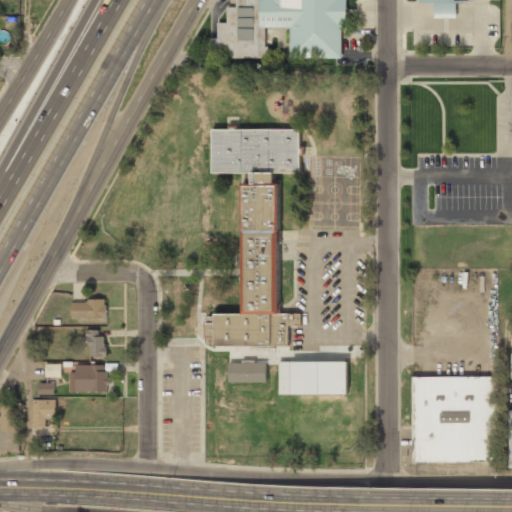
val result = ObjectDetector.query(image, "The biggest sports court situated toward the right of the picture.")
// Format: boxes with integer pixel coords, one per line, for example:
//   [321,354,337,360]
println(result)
[309,157,361,228]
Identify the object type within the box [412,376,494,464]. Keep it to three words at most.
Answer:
building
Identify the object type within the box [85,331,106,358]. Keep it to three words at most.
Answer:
house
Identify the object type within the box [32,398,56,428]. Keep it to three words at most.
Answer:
house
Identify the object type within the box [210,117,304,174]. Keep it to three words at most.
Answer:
building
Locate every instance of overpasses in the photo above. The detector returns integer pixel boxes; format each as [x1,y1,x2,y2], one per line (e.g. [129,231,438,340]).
[0,472,512,512]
